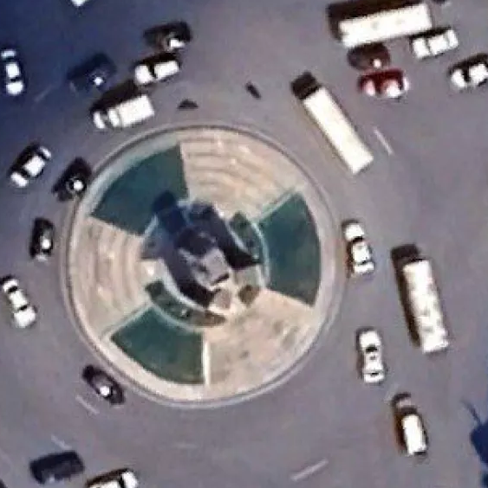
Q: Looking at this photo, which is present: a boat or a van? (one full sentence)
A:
The image shows a van.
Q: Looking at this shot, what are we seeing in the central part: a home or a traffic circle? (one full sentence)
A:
There is a traffic circle in the central part.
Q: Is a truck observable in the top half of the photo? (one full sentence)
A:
Yes, there is a truck in the top half of the photo.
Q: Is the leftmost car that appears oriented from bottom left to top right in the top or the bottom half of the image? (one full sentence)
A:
It is in the top half that the leftmost car that appears oriented from bottom left to top right appears.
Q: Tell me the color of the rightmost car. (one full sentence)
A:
The color of the rightmost car is white.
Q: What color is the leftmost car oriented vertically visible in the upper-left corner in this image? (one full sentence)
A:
The leftmost car oriented vertically visible in the upper-left corner looks white in the image.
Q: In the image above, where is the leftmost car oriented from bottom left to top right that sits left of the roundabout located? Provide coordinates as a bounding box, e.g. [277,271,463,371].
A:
[9,145,53,185]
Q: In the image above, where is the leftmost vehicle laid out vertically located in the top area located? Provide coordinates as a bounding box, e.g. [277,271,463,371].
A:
[0,50,23,95]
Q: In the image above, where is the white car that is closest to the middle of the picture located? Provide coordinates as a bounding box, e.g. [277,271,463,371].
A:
[343,221,374,274]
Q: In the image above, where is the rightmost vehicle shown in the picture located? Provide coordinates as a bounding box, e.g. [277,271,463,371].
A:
[449,55,488,86]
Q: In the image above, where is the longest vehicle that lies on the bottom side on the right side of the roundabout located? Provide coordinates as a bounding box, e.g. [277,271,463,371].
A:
[400,255,447,349]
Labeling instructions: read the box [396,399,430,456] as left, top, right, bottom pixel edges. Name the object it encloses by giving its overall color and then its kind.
white van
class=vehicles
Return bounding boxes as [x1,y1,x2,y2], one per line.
[298,85,370,171]
[0,50,23,95]
[334,1,430,47]
[400,255,447,349]
[357,331,385,382]
[396,399,430,456]
[134,55,181,84]
[82,365,125,405]
[9,145,53,185]
[343,221,374,274]
[146,24,190,49]
[55,160,92,200]
[0,276,38,328]
[348,45,391,69]
[31,451,83,483]
[410,29,458,55]
[449,55,488,86]
[87,471,136,488]
[361,74,406,94]
[68,57,114,84]
[92,90,155,123]
[31,220,53,260]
